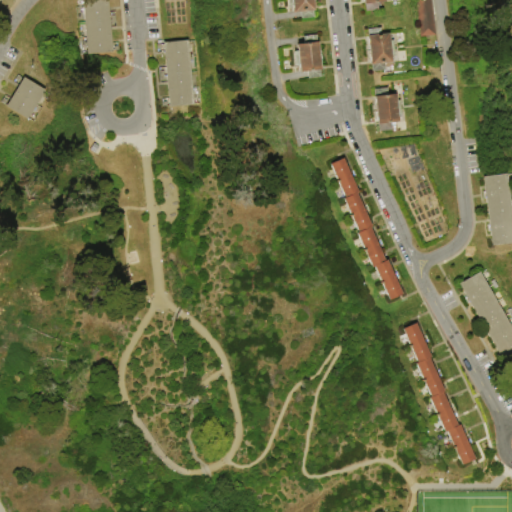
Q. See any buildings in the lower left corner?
No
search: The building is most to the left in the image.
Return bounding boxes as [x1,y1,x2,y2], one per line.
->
[7,76,44,118]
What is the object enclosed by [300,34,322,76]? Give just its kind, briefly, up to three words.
house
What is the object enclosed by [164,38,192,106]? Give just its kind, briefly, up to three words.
building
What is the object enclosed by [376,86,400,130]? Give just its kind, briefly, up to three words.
house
